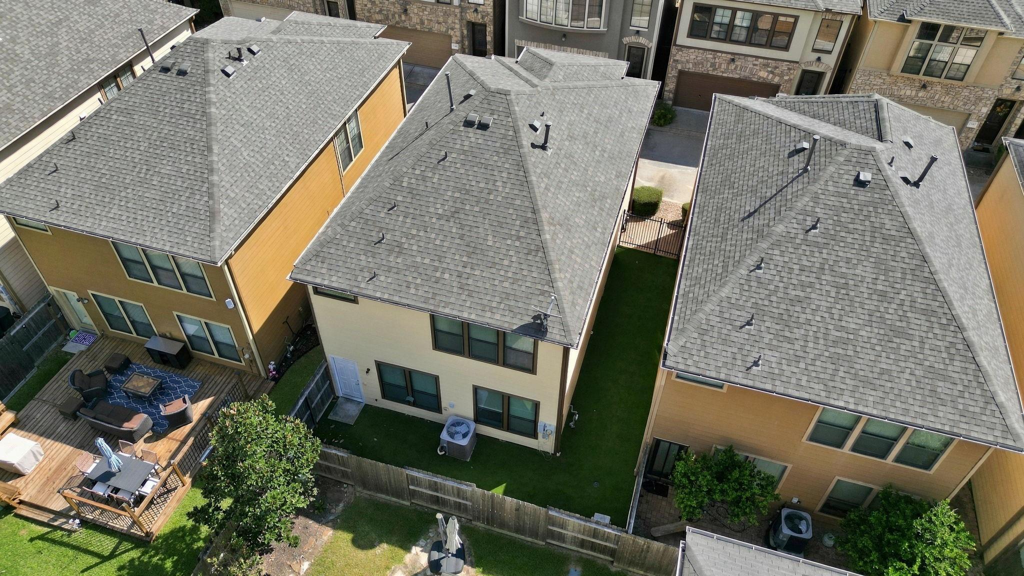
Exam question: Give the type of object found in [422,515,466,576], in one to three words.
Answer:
umbrella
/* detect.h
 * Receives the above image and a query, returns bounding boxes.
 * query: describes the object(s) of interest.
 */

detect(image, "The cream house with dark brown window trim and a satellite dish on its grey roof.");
[287,46,658,463]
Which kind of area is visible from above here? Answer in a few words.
residential area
